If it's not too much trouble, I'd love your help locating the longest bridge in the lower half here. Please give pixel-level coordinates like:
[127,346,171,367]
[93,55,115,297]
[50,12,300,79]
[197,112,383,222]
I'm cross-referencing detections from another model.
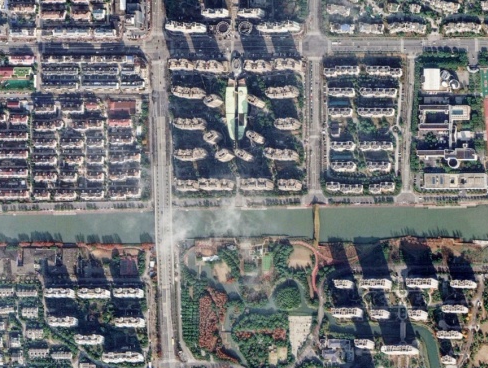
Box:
[153,149,177,315]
